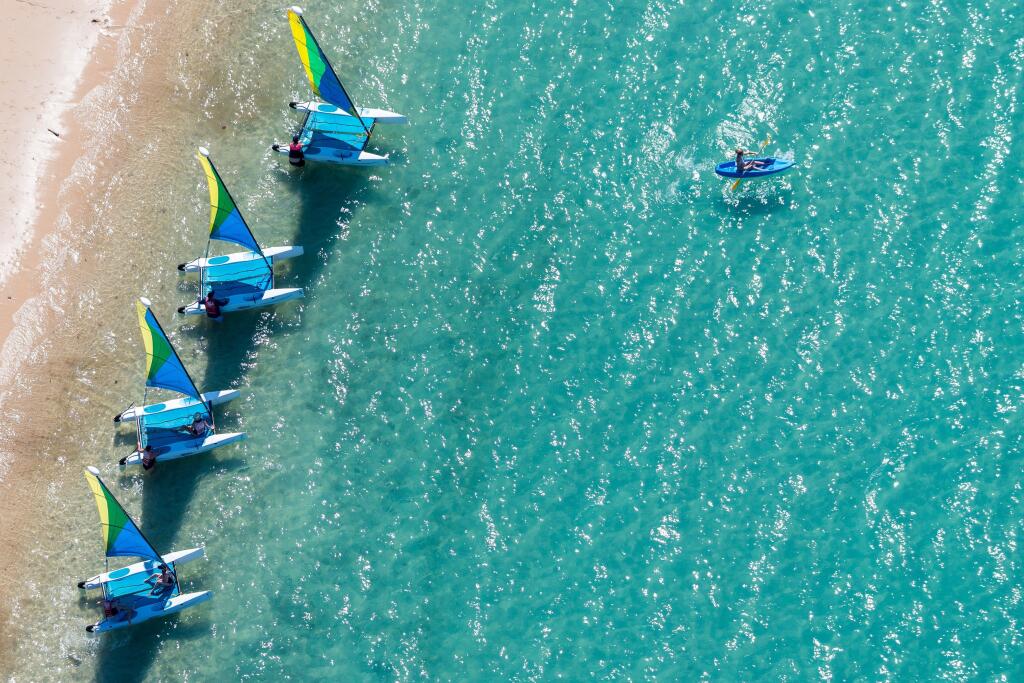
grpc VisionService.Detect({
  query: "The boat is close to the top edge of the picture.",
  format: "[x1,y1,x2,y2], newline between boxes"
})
[274,7,407,167]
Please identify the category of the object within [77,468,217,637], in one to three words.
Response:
boat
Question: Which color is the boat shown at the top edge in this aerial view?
blue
